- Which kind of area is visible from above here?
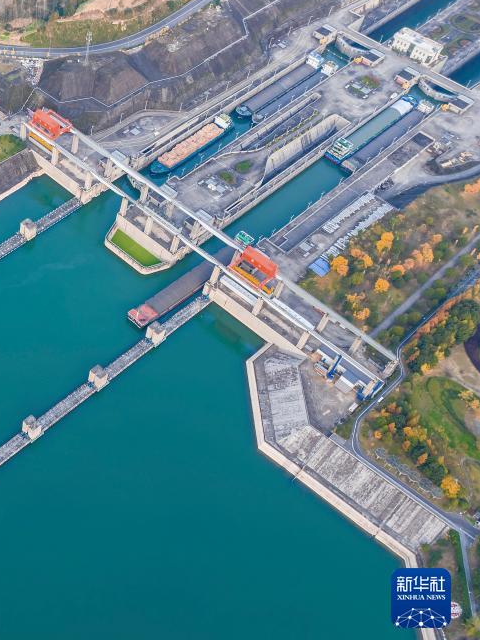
port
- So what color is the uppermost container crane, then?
red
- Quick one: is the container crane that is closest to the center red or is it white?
red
